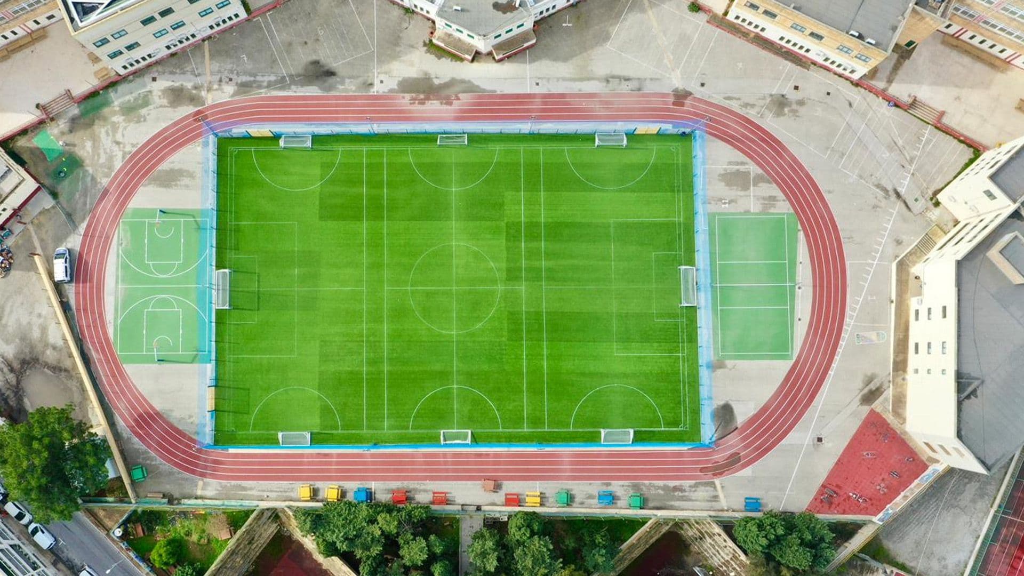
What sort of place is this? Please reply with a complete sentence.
This looks like a sports ground.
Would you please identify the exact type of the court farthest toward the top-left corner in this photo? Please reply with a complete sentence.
I'd identify the court farthest toward the top-left corner as a basketball court.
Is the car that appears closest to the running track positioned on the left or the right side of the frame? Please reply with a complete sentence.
The car that appears closest to the running track is on the left side of the image.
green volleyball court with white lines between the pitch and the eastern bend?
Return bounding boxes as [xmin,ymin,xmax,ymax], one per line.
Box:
[708,213,800,360]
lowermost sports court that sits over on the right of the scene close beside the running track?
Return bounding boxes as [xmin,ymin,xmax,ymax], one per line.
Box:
[622,525,724,576]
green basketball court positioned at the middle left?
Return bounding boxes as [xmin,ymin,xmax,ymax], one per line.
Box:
[113,209,209,364]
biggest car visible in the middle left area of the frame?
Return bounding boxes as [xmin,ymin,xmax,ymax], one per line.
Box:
[53,248,74,282]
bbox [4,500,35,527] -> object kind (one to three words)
car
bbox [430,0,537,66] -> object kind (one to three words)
building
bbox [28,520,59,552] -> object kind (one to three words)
car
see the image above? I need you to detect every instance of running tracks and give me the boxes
[74,94,846,483]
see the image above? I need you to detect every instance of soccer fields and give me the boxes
[214,133,702,445]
